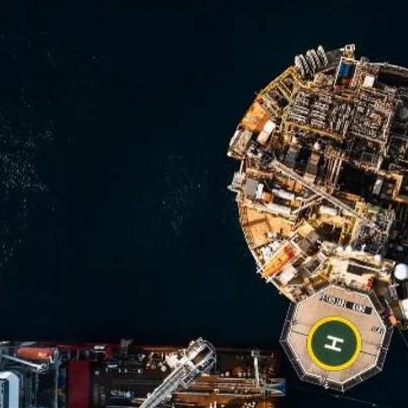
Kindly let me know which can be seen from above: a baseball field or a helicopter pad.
helicopter pad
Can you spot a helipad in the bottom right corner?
Yes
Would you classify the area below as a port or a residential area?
port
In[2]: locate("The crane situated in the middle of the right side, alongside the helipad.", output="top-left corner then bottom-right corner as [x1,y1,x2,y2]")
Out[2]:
[251,141,388,237]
